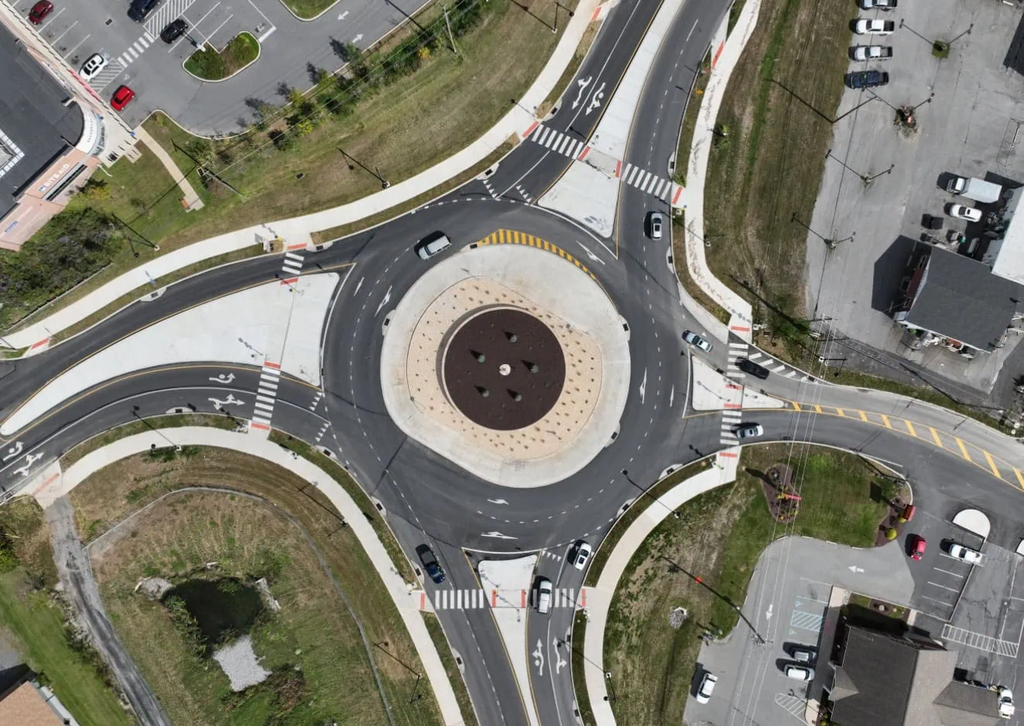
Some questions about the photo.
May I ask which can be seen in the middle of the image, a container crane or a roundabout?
roundabout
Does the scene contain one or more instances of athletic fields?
No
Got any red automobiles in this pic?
Yes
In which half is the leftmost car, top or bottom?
top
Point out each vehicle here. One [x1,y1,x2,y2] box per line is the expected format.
[948,175,1005,201]
[855,17,895,35]
[857,0,898,12]
[731,423,763,439]
[416,232,453,259]
[695,670,718,705]
[997,684,1016,720]
[649,211,664,241]
[782,664,814,682]
[852,44,893,62]
[28,0,56,27]
[947,544,986,566]
[847,69,889,89]
[785,647,818,664]
[537,579,553,614]
[111,83,137,111]
[128,0,160,25]
[736,357,771,381]
[415,544,445,583]
[907,533,927,562]
[161,16,190,45]
[948,203,982,221]
[79,51,109,82]
[573,540,592,572]
[682,329,715,354]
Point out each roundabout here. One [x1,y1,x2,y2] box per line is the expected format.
[321,188,692,555]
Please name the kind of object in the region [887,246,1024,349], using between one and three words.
building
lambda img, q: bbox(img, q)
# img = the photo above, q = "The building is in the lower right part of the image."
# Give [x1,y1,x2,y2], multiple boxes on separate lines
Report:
[814,623,1004,726]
